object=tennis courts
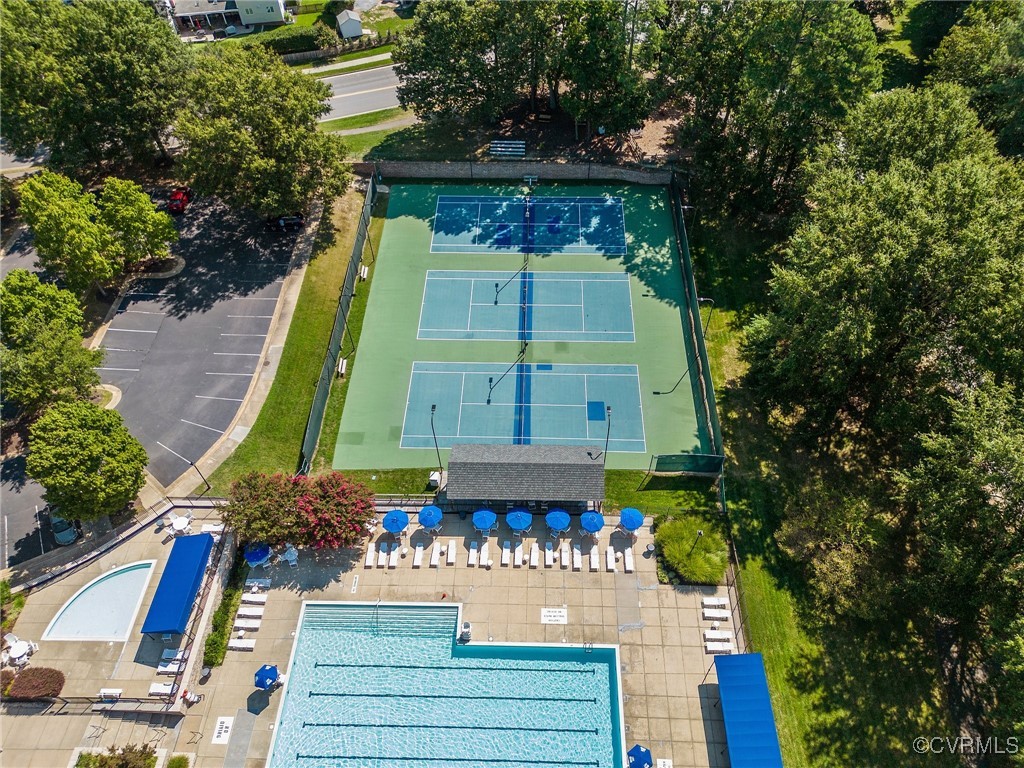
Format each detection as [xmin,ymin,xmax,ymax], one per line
[417,270,636,342]
[400,361,646,452]
[430,196,627,254]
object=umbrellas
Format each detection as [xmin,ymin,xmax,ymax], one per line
[618,511,645,536]
[544,510,572,535]
[471,510,497,533]
[578,512,605,537]
[416,508,442,533]
[242,544,271,569]
[626,744,655,768]
[252,664,280,692]
[504,511,530,535]
[380,511,408,536]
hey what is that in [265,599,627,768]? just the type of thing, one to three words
swimming pool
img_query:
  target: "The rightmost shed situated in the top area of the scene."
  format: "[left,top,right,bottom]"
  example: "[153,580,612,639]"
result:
[340,5,366,38]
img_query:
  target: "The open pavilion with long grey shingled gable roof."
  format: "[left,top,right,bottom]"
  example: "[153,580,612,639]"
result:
[444,445,605,514]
